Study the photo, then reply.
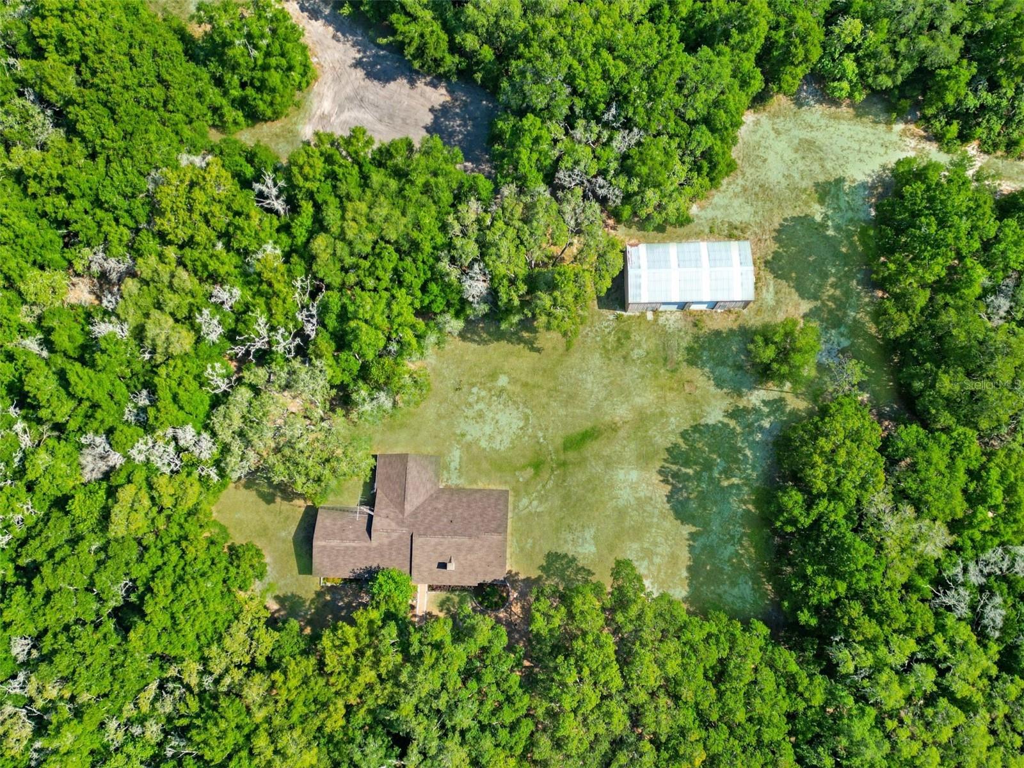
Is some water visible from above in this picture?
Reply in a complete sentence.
No, there is no water in the image.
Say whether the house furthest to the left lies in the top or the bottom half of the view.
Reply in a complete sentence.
The house furthest to the left is in the bottom half of the image.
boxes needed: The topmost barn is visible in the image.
[623,240,754,312]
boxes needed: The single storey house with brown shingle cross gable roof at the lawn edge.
[312,454,509,586]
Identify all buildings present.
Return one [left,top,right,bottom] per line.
[312,454,509,586]
[623,240,754,312]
